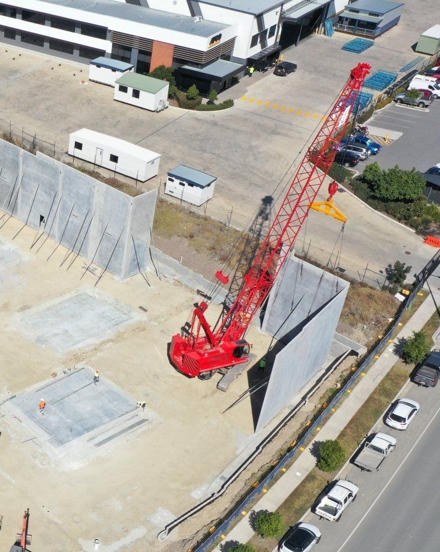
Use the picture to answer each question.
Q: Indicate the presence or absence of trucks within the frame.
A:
Yes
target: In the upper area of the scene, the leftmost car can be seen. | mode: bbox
[271,59,298,76]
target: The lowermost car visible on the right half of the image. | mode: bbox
[280,521,321,552]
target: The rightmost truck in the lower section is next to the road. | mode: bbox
[415,348,440,388]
